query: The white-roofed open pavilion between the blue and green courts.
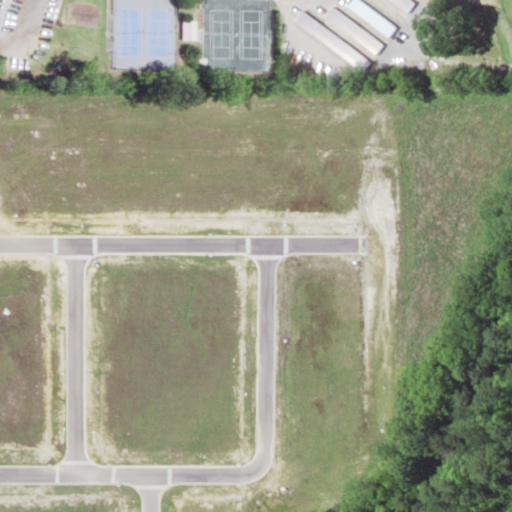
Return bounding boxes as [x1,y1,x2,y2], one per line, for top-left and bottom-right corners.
[182,20,198,42]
